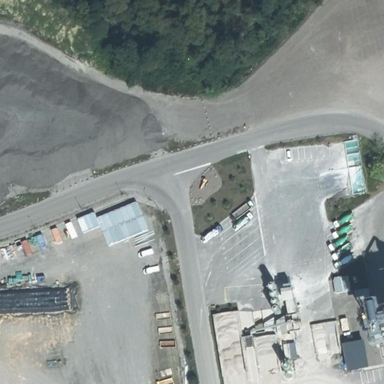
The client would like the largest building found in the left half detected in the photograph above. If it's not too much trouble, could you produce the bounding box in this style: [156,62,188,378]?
[96,202,148,246]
